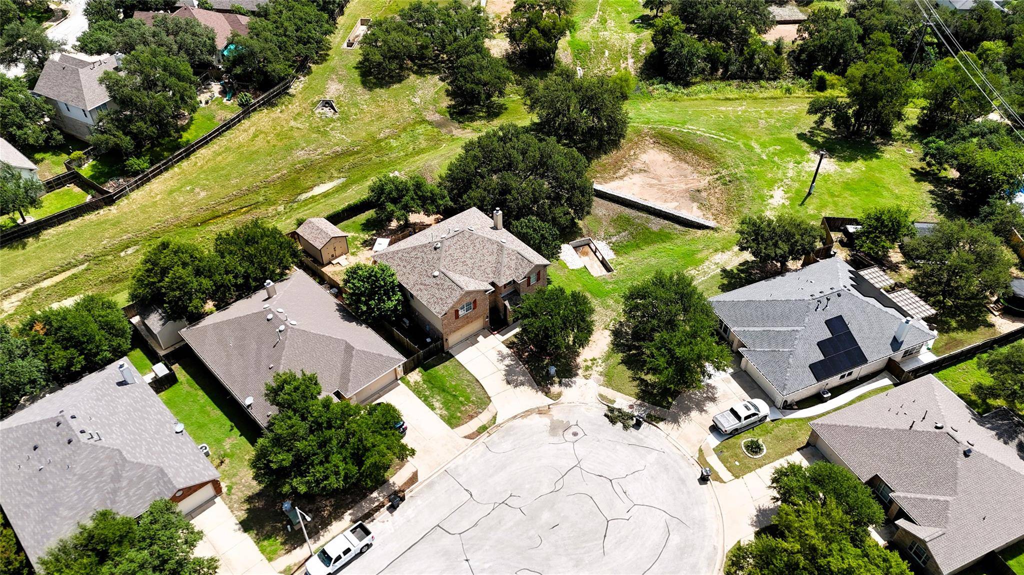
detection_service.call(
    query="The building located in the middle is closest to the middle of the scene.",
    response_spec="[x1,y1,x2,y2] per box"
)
[372,206,552,349]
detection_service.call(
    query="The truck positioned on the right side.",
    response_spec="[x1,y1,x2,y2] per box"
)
[711,401,771,435]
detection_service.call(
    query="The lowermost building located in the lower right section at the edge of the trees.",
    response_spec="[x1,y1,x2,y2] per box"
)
[805,373,1024,575]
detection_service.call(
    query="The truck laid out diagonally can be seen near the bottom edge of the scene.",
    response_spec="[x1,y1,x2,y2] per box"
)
[304,522,373,575]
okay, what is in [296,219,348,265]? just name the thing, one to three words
shed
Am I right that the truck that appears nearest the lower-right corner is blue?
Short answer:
No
